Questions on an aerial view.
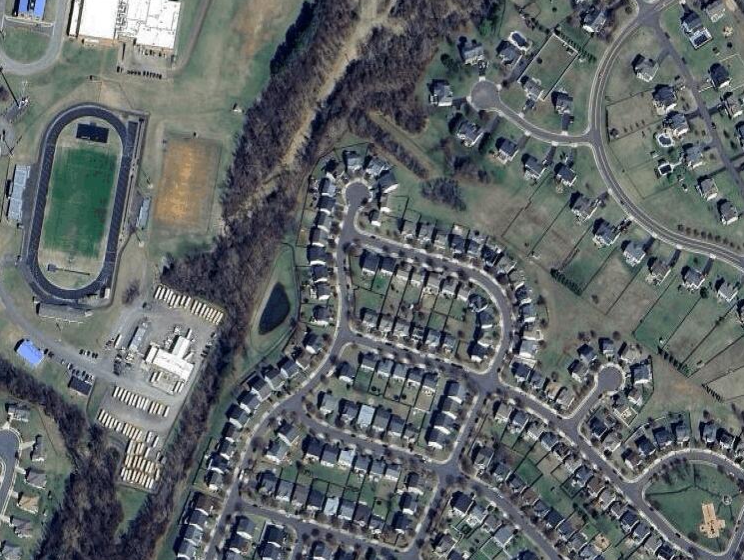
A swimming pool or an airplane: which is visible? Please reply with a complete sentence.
Looking from above, you can make out a swimming pool.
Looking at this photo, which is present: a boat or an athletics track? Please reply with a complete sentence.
Visible in the photo is an athletics track.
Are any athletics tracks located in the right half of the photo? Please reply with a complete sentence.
No, no athletics track is visible in the right half of the photo.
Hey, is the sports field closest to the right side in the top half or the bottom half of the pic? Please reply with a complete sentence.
You can find the sports field closest to the right side in the top half.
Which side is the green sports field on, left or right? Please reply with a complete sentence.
The green sports field appears in the left half of the scene.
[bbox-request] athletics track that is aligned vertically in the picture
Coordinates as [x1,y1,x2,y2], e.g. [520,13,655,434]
[24,107,135,299]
